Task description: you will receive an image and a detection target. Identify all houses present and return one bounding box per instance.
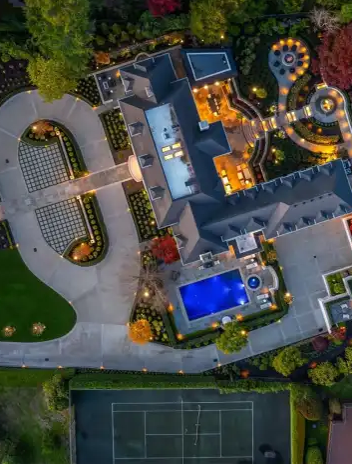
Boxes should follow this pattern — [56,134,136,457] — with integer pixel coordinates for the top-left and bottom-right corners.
[118,48,352,266]
[322,396,352,464]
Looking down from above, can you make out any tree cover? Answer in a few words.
Yes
